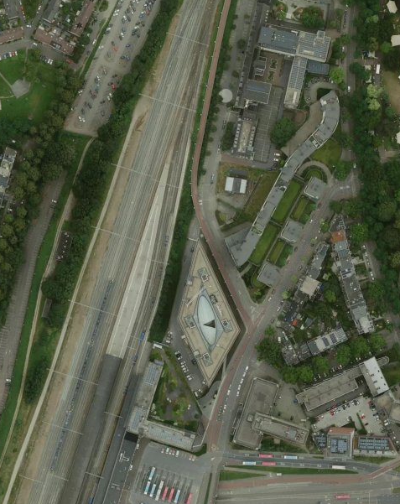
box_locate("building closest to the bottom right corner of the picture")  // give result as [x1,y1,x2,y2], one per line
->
[355,437,397,456]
